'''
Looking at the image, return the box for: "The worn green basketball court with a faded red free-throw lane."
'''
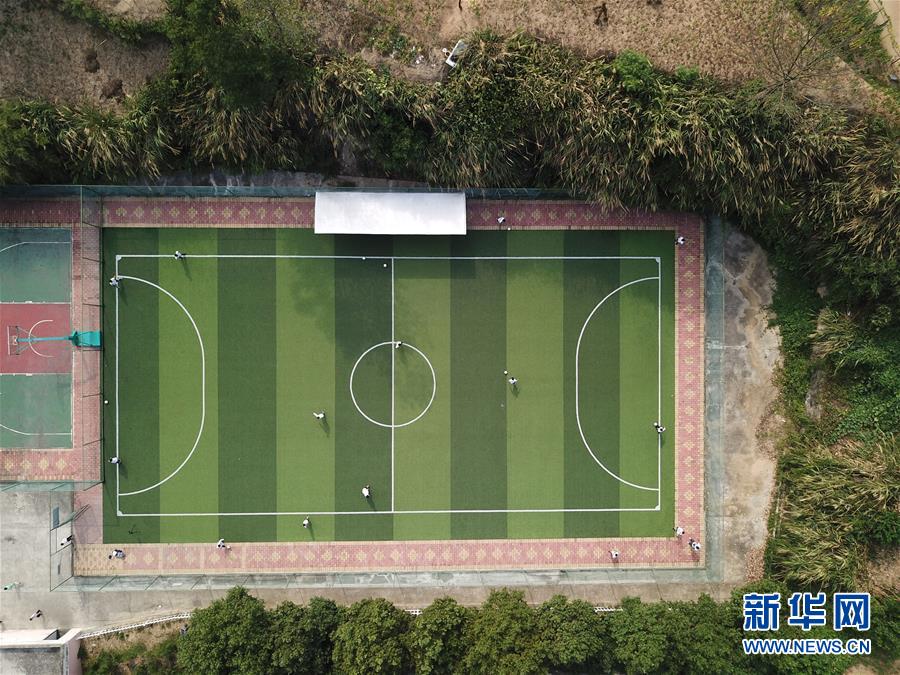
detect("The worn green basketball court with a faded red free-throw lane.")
[0,227,72,450]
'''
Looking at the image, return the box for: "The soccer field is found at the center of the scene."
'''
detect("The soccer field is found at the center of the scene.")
[102,227,676,545]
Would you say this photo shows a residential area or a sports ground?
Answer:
sports ground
